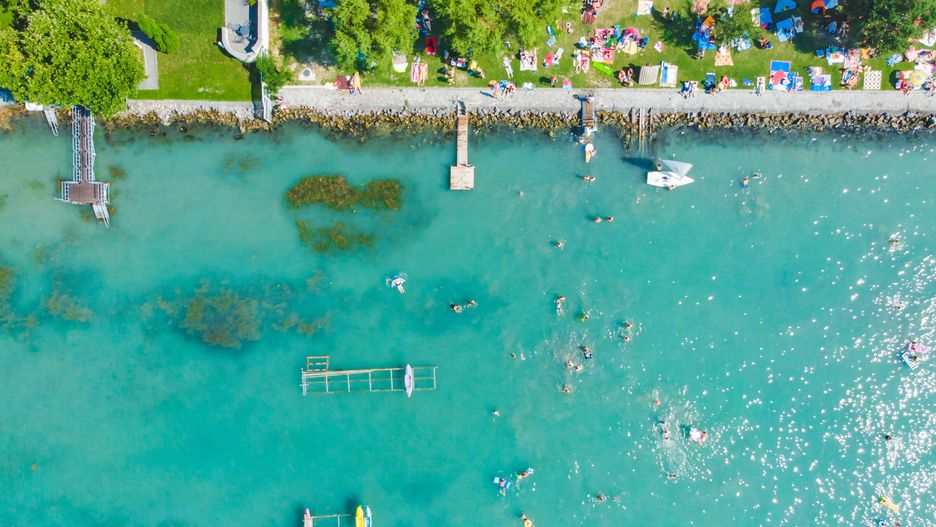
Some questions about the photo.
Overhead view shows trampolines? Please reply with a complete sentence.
No, the frame has no trampoline in it.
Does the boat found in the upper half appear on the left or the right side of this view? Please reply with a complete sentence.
You can find the boat found in the upper half on the right side of the picture.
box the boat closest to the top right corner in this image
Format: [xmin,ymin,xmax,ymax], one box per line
[646,158,696,187]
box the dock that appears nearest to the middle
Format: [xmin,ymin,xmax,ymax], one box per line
[450,98,474,190]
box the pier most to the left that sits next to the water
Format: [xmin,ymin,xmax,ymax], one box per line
[57,105,116,229]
